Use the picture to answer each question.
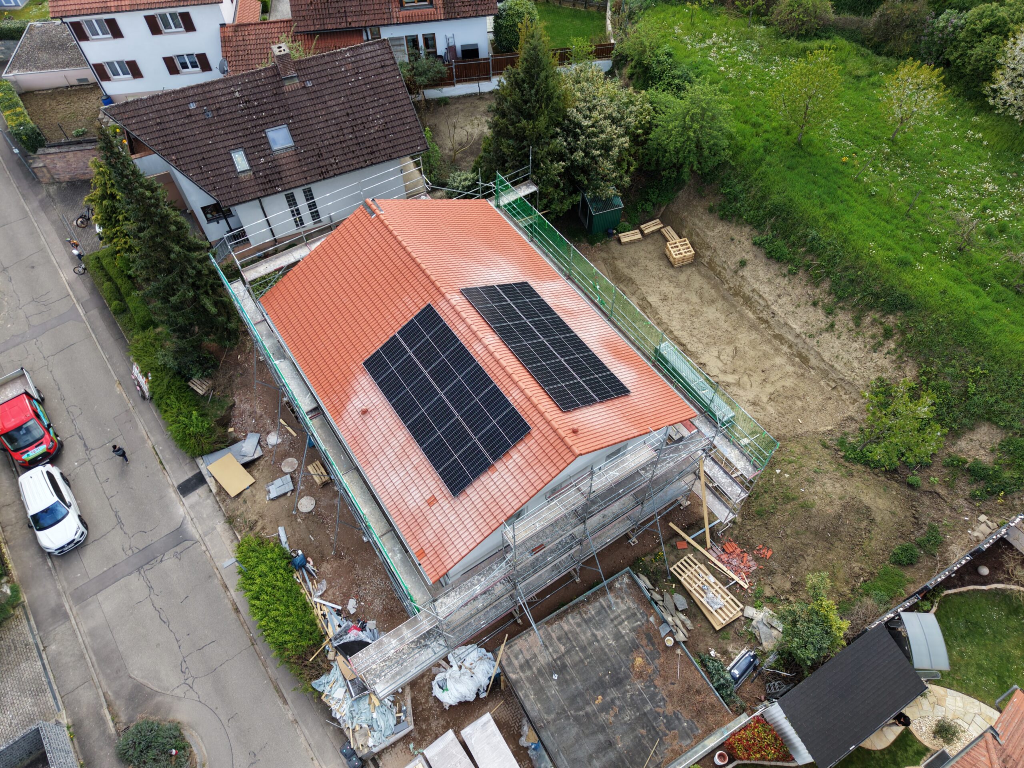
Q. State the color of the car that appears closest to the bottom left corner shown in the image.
white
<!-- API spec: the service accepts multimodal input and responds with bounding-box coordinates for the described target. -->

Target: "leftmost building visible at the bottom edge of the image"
[493,566,775,768]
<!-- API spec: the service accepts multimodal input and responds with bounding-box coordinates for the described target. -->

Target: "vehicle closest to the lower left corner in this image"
[17,459,94,555]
